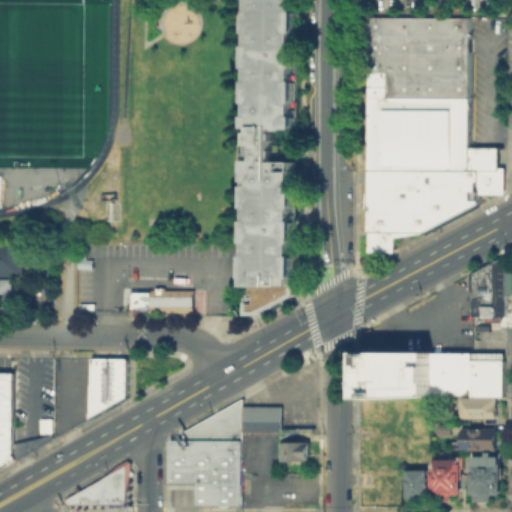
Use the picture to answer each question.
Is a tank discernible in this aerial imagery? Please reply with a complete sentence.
No, the photo shows no tank.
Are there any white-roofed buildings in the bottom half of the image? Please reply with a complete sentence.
Yes, a white-roofed building appears in the bottom half of the image.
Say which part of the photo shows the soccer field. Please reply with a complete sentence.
The soccer field appears toward the top left of the photo.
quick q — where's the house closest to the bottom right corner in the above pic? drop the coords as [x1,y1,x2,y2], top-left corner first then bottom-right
[468,452,502,500]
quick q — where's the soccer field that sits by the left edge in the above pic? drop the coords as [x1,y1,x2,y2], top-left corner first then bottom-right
[0,0,110,168]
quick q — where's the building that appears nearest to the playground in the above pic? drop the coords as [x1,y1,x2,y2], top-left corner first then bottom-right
[233,0,294,288]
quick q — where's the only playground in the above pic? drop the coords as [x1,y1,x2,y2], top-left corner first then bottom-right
[161,2,204,46]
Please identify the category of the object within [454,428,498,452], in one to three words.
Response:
house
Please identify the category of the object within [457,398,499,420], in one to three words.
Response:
house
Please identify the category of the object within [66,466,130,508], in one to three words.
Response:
building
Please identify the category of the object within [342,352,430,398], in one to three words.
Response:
building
